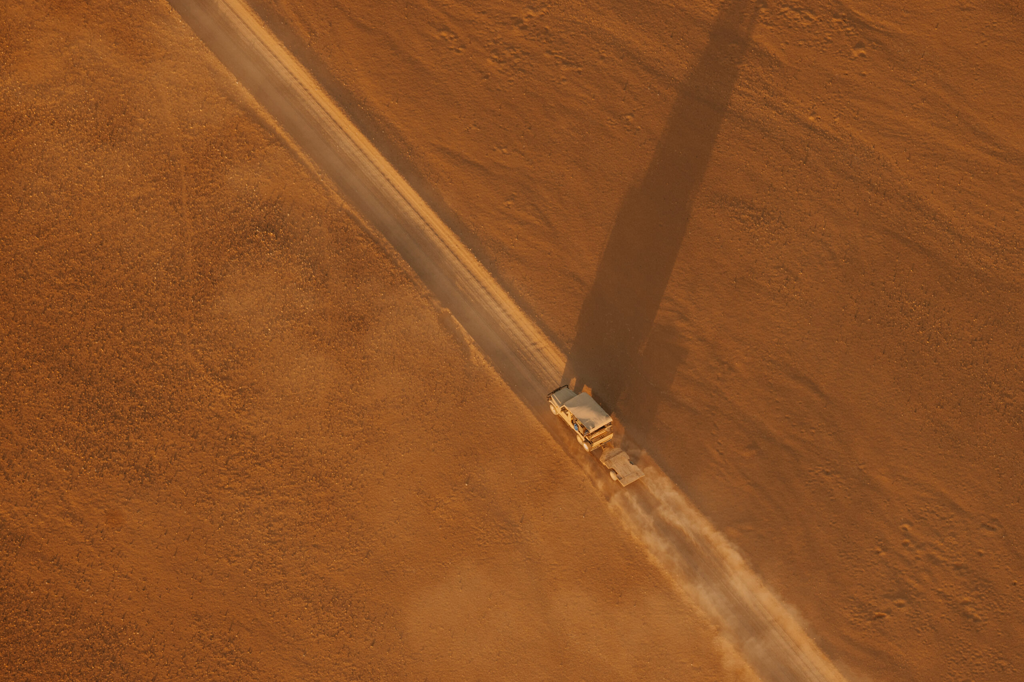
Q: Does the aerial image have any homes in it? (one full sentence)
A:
No, there's no home here.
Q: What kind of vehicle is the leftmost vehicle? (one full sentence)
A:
In the photo, the leftmost vehicle shows up as a truck.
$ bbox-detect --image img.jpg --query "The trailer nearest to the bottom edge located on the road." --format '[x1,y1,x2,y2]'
[600,445,646,489]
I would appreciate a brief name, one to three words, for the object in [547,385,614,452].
truck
